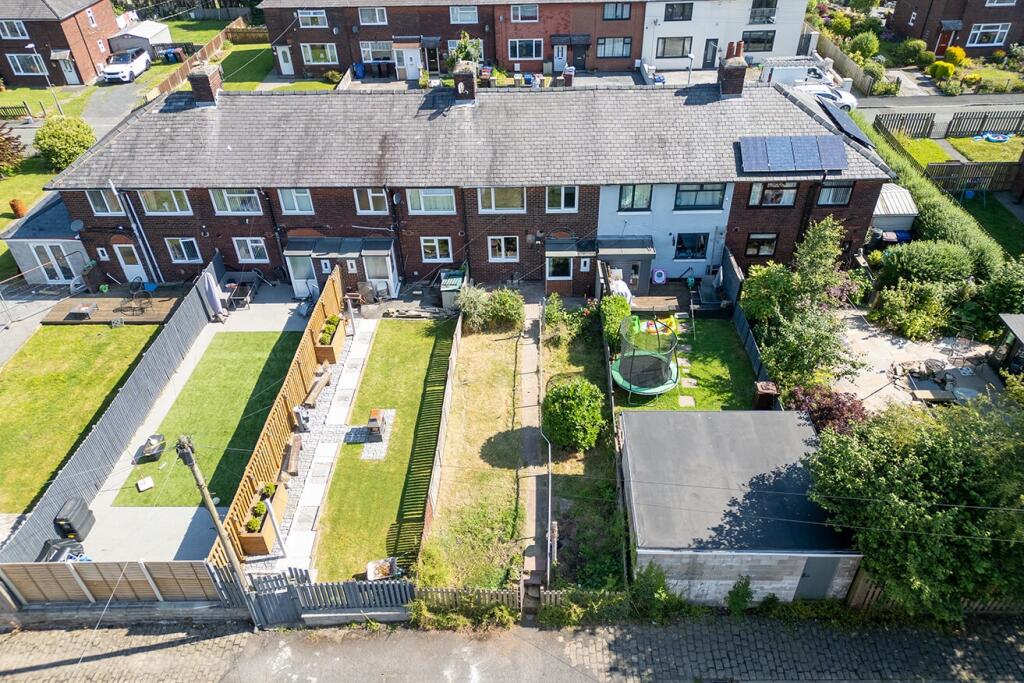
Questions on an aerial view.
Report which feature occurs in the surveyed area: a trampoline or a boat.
trampoline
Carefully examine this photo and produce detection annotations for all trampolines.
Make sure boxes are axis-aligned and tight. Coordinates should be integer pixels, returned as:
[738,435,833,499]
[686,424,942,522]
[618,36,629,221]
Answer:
[610,317,681,408]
